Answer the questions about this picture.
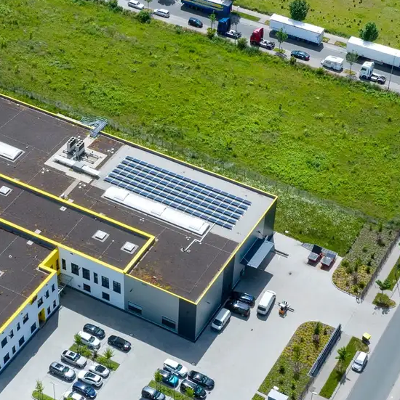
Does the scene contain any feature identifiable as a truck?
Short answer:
Yes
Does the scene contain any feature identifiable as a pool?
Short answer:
No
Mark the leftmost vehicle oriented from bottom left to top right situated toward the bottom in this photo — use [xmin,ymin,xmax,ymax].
[211,306,233,331]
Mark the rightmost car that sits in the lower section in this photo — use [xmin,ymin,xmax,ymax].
[350,349,369,373]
